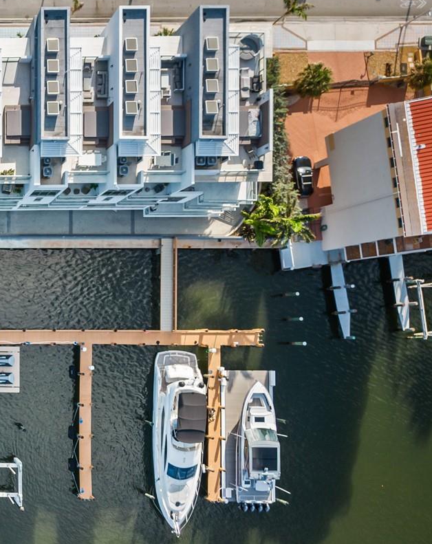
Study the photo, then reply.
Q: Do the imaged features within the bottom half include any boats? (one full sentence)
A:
Yes, you'll find a boat within the bottom half.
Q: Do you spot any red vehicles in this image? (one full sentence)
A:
No, no red vehicle can be seen from above.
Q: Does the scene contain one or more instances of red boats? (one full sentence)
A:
No, there's no red boat here.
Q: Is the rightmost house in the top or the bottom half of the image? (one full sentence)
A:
The rightmost house is in the top half of the image.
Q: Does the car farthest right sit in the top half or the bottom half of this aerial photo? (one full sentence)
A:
The car farthest right sits in the top half of the picture.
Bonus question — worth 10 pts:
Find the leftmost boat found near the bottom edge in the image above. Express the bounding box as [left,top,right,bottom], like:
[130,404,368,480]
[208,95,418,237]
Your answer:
[152,349,212,541]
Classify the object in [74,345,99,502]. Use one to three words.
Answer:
pier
